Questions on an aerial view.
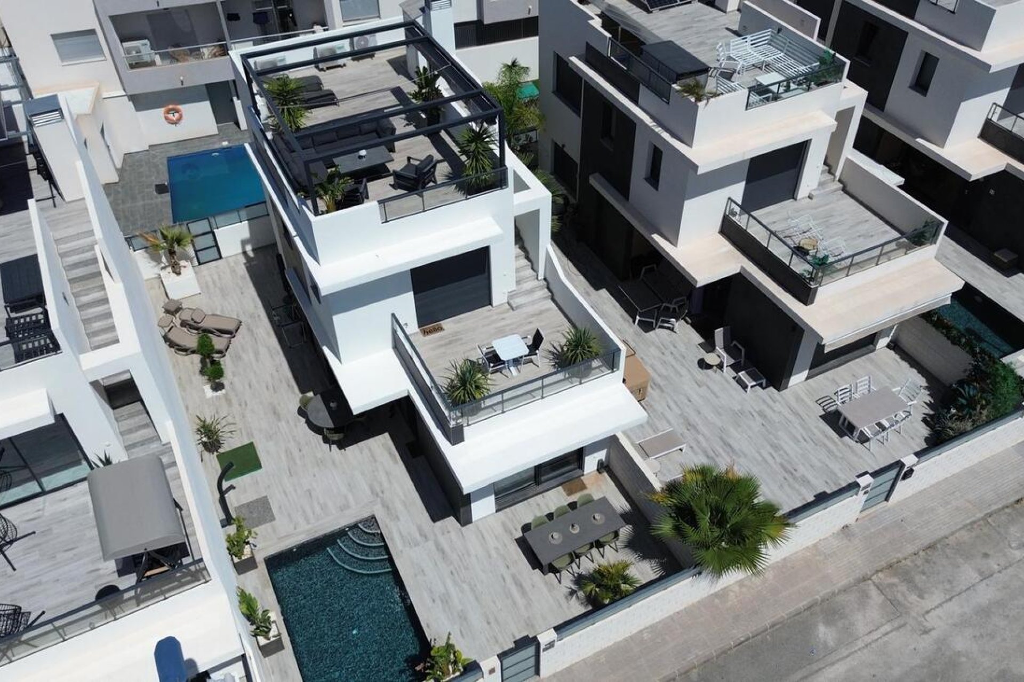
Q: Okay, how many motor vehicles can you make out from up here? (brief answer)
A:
0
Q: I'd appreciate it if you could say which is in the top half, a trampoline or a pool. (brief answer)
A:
pool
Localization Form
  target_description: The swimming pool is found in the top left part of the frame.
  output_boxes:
[168,145,260,223]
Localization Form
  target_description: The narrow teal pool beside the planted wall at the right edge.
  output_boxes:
[935,300,1009,361]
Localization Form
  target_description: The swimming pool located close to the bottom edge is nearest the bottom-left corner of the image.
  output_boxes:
[264,516,436,682]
